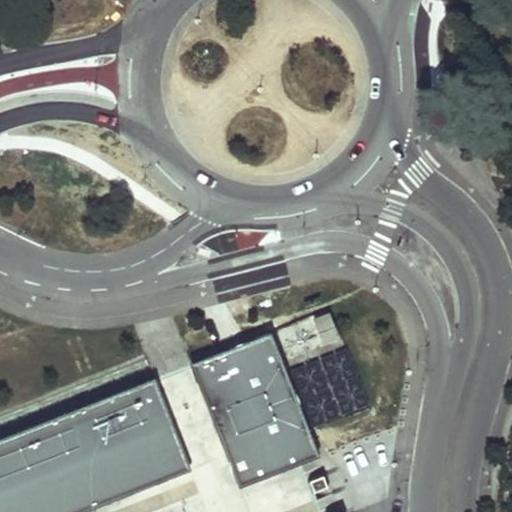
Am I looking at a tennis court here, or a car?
car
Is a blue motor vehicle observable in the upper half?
No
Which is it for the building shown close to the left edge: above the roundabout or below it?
below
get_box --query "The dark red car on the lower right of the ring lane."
[348,140,366,161]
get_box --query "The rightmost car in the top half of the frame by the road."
[389,140,405,161]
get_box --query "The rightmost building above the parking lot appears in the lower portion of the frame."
[278,312,370,428]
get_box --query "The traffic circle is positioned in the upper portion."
[118,0,419,226]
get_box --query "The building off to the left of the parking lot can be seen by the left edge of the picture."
[0,380,190,512]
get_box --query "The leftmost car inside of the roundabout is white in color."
[195,171,218,188]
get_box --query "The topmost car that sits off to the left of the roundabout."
[96,113,118,126]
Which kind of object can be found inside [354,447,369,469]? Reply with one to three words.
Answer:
vehicle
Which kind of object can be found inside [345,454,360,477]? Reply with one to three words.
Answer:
vehicle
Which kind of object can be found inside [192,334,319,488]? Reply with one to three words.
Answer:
building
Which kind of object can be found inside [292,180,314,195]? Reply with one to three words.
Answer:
car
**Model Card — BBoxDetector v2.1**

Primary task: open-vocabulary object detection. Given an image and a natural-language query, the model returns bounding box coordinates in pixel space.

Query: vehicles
[370,78,380,98]
[389,140,405,161]
[392,500,403,512]
[376,445,388,467]
[195,171,218,188]
[96,113,118,126]
[345,454,360,477]
[354,447,369,469]
[348,140,366,161]
[292,180,314,195]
